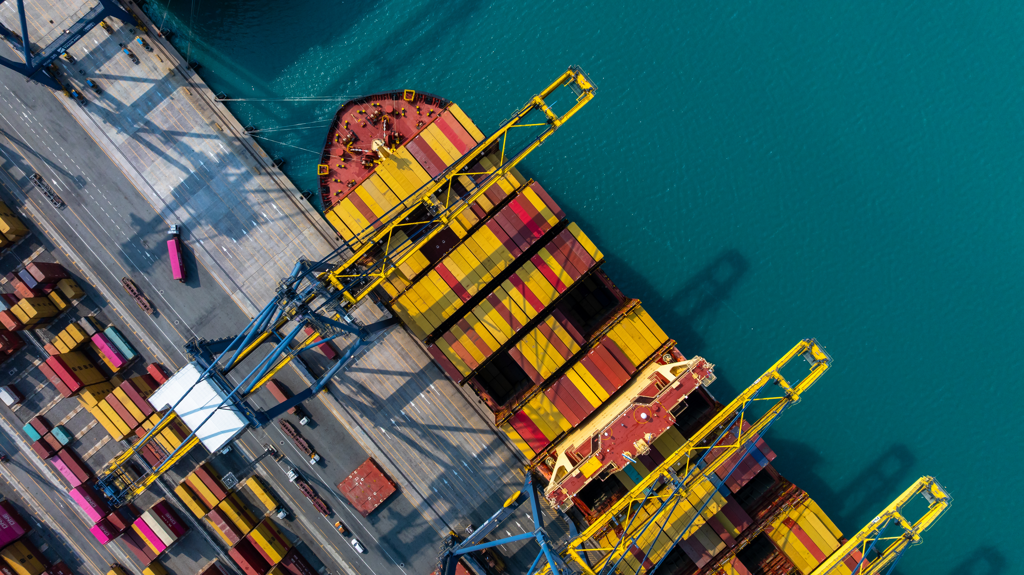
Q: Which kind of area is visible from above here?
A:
port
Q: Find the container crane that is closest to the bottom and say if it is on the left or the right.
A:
right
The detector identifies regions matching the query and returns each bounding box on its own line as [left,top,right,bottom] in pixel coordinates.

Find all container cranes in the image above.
[431,327,840,575]
[796,465,961,575]
[75,57,606,521]
[0,0,146,98]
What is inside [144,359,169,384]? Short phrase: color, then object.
red shipping container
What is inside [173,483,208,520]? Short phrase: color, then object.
yellow shipping container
